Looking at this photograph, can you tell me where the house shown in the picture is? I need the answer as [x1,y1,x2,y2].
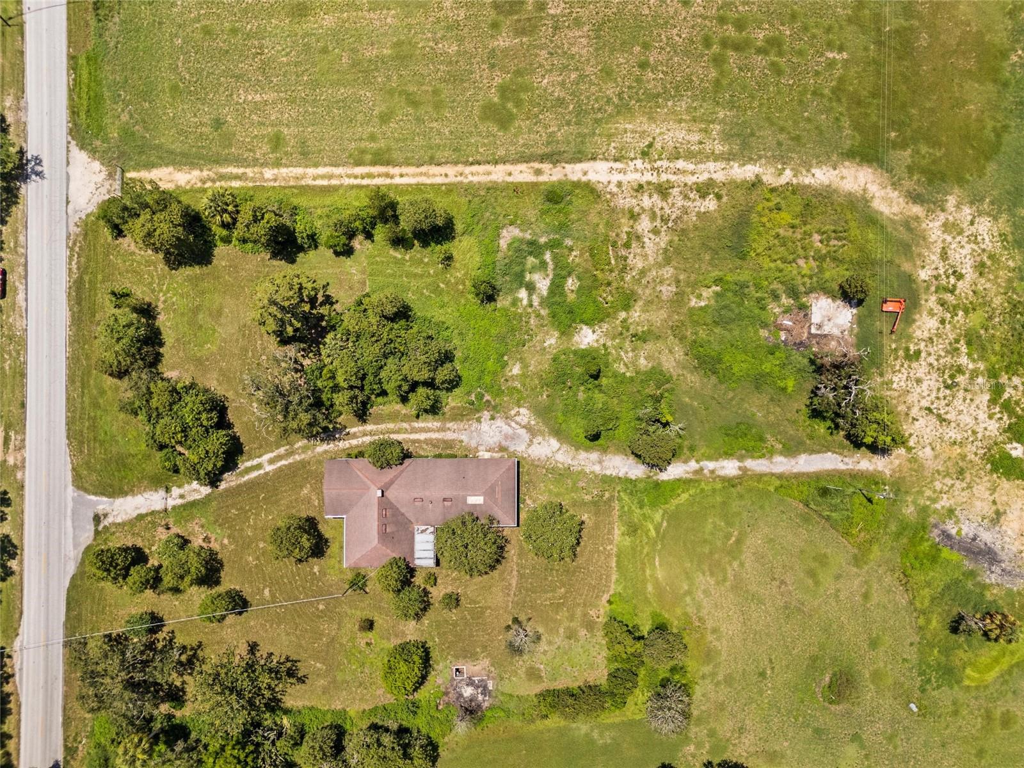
[324,458,517,568]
